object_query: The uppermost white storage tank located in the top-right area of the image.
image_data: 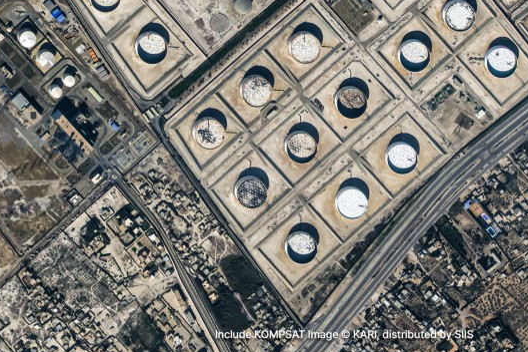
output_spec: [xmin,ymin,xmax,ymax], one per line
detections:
[442,0,476,41]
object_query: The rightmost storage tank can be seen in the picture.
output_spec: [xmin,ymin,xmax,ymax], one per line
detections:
[472,43,519,77]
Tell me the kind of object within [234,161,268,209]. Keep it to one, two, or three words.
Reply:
storage tank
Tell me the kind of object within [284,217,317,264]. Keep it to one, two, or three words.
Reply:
storage tank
